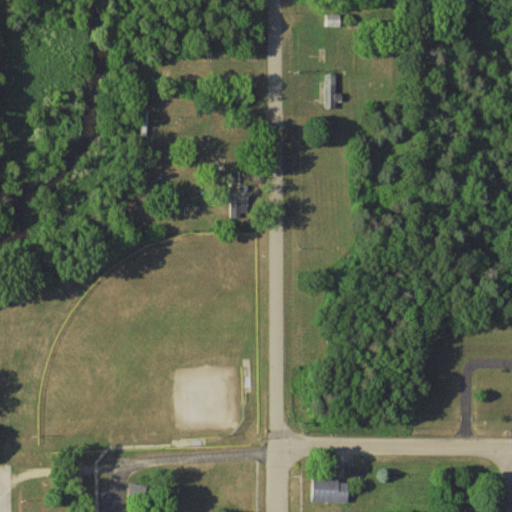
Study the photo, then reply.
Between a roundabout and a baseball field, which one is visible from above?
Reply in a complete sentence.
Looking from above, you can make out a baseball field.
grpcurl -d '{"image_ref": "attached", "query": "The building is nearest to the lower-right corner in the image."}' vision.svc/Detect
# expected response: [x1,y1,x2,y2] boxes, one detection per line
[312,480,348,503]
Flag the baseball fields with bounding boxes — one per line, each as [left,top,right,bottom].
[38,233,258,446]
